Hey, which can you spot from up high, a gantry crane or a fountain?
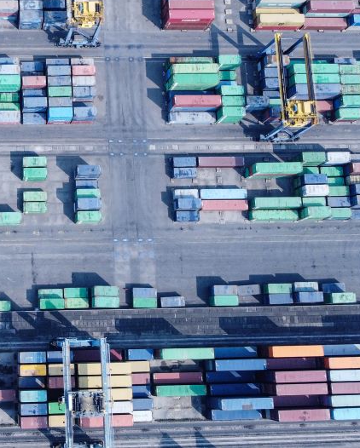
gantry crane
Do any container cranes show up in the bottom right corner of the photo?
No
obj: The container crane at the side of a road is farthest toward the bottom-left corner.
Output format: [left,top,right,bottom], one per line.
[49,339,117,448]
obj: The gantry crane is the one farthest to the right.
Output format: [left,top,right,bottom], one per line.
[247,30,324,143]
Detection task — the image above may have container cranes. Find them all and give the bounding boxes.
[49,339,117,448]
[247,30,324,143]
[52,0,105,49]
